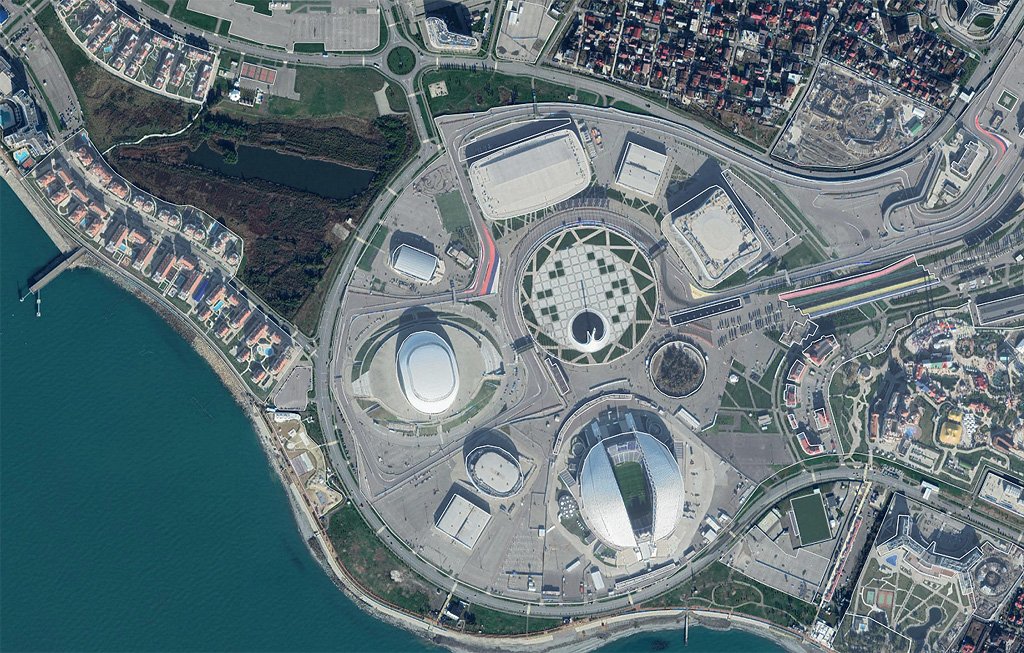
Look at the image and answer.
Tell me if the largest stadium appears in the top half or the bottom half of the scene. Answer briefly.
bottom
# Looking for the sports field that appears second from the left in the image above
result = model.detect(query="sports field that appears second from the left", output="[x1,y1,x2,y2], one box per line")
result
[611,461,651,523]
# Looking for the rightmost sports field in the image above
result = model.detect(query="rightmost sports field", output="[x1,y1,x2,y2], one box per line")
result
[790,492,832,546]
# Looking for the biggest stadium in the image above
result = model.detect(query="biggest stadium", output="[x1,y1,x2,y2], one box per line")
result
[560,406,685,561]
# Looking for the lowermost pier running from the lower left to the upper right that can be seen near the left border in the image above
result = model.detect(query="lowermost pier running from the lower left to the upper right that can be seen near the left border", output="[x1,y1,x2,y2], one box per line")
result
[20,246,88,316]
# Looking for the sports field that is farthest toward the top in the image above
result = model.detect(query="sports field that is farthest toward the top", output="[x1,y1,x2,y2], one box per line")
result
[435,190,476,231]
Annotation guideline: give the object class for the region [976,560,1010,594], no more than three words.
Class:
building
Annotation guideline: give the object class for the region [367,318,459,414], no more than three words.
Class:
stadium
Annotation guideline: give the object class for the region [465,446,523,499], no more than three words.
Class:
stadium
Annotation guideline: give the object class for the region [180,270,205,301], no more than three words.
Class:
house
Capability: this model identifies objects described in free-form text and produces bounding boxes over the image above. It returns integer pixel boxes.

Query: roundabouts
[378,38,426,84]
